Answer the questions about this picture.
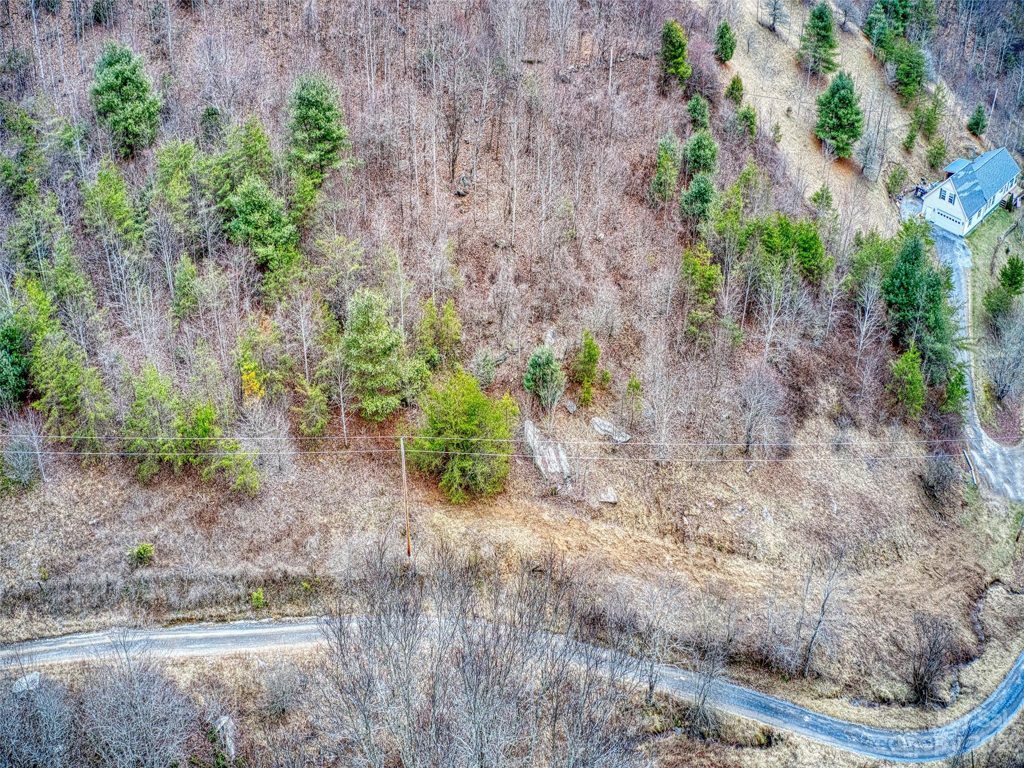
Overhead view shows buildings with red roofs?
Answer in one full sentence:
No, I can see no building with a red roof in this picture.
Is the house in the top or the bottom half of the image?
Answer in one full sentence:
The top half of the photo is where the house is.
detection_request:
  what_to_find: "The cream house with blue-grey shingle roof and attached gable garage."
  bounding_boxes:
[914,142,1023,238]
